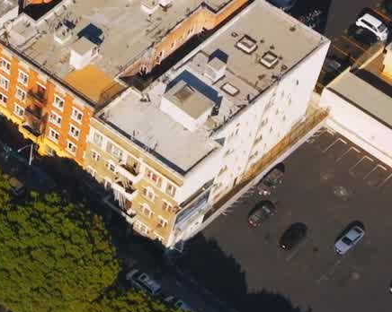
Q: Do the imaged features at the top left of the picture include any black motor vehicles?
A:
No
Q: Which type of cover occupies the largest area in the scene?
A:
buildings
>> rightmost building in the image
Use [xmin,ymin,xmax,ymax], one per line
[312,68,392,169]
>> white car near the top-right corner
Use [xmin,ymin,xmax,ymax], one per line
[358,10,389,40]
